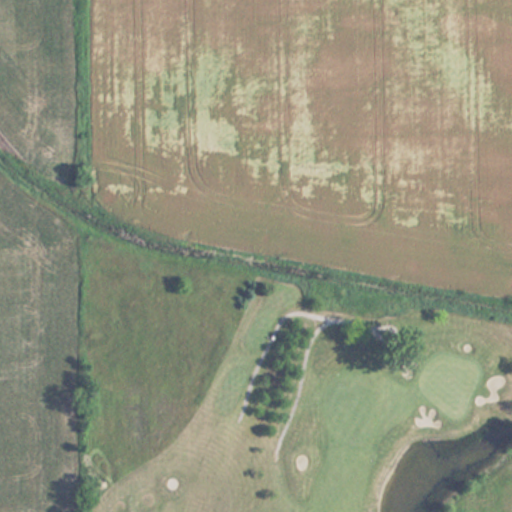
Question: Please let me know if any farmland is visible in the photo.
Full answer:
Yes, farmland shows up in the scene.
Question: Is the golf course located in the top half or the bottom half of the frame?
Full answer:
It is in the bottom half that the golf course appears.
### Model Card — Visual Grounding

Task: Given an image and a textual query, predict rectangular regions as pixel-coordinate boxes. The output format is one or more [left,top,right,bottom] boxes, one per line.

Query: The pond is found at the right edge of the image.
[380,418,512,512]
